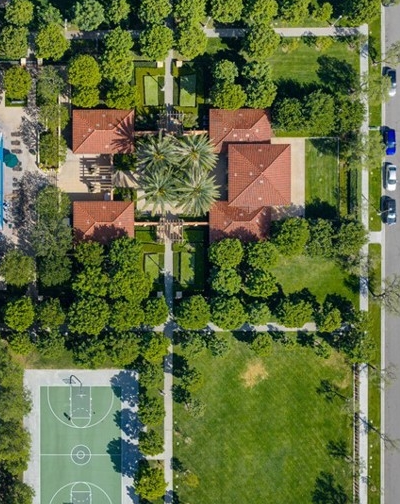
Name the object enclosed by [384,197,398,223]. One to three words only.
car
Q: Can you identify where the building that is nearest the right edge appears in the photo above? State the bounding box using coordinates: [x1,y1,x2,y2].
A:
[207,108,291,244]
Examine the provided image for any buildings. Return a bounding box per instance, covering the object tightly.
[73,109,134,155]
[73,201,134,244]
[207,108,291,244]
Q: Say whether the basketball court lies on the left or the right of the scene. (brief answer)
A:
left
